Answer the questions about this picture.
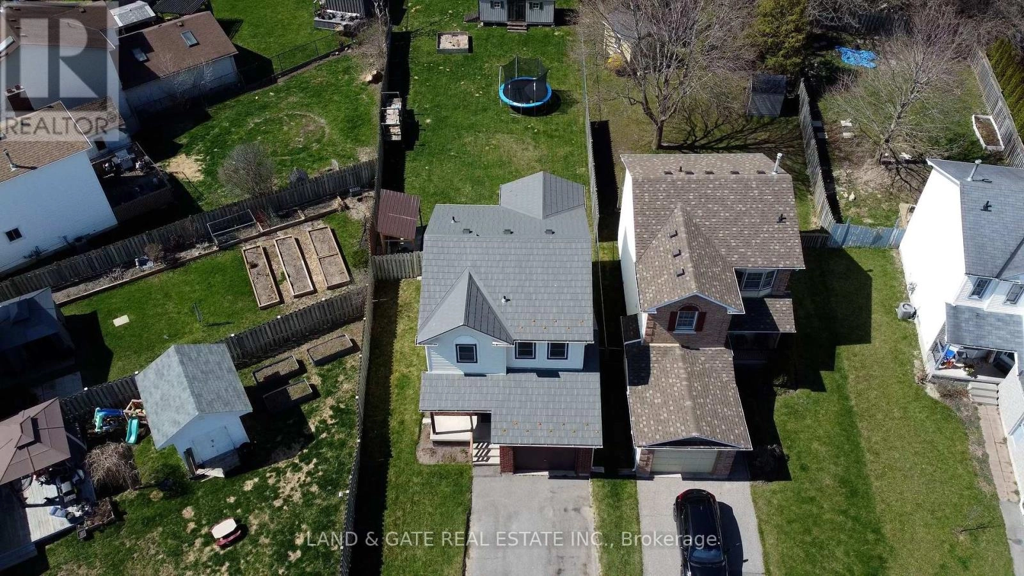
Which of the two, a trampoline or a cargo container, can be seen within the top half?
trampoline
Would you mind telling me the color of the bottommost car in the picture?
black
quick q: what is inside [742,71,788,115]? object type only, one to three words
shed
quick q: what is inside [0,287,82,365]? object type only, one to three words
gazebo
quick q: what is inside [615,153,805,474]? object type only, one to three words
house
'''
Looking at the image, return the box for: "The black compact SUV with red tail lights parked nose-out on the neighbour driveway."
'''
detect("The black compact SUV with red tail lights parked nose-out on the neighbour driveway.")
[672,494,735,576]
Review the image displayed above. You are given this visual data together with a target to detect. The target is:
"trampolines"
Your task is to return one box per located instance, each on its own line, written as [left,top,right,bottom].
[499,52,552,117]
